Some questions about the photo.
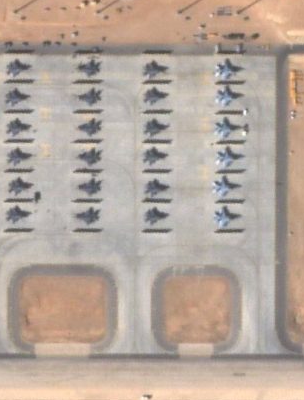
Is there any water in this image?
No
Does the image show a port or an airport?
airport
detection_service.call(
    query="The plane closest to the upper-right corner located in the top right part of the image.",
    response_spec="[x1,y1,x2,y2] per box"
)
[215,65,238,81]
